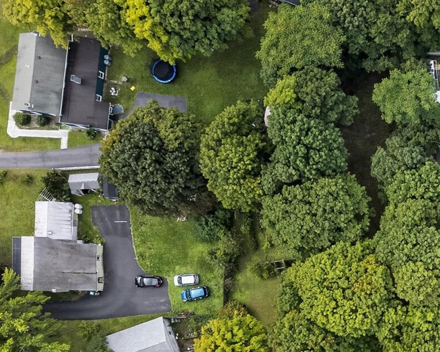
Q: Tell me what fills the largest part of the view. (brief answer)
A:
trees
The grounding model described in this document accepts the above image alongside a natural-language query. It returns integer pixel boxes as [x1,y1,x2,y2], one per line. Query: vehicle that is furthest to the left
[132,274,161,288]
